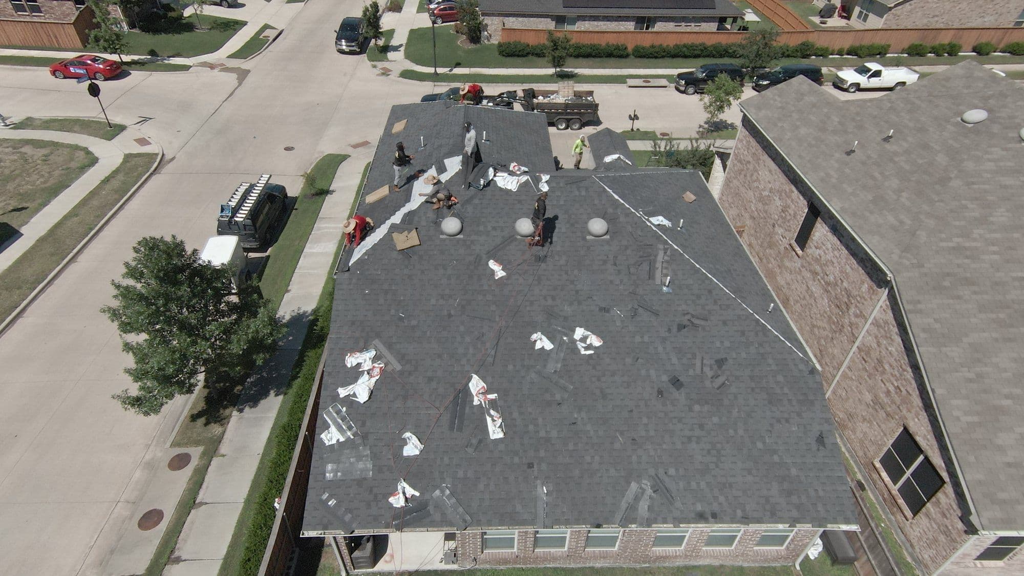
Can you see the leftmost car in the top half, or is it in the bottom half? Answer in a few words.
top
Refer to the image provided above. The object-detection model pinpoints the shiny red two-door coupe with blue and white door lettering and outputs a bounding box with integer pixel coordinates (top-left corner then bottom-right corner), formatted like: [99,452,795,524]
[46,53,125,83]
